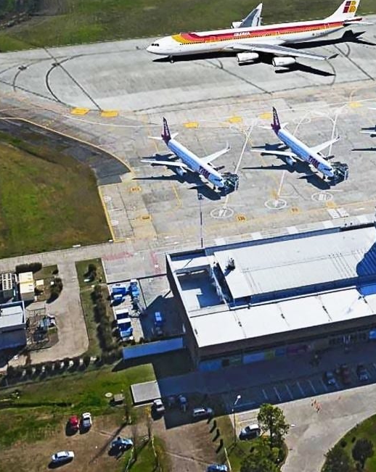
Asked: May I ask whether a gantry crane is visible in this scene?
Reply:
No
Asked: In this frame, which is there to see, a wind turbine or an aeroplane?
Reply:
aeroplane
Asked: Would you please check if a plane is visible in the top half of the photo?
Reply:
Yes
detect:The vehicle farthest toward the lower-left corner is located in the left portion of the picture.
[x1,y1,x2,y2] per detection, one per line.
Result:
[52,452,74,464]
